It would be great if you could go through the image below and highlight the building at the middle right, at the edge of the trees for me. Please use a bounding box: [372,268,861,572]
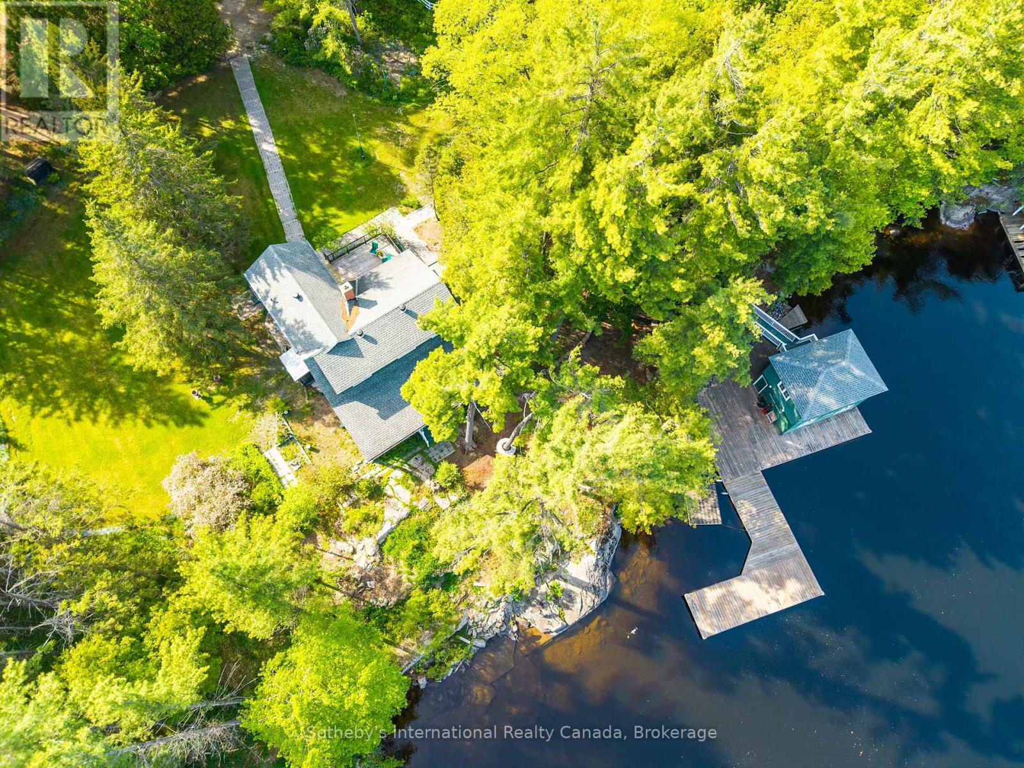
[757,328,887,432]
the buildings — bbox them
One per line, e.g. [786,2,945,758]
[757,328,887,432]
[243,238,467,464]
